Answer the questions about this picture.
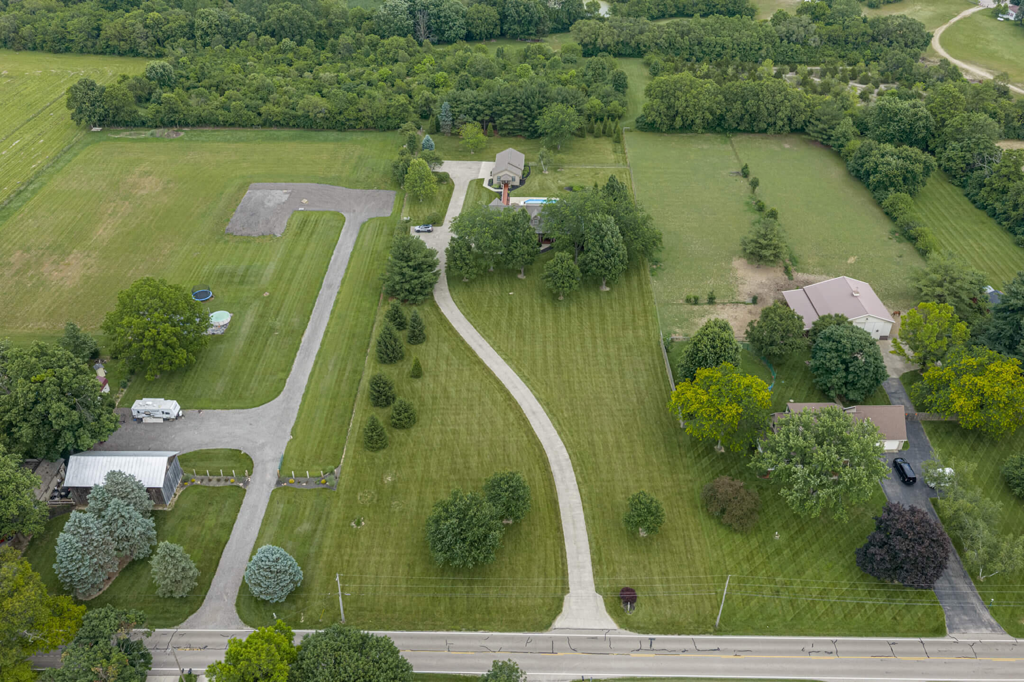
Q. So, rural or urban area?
rural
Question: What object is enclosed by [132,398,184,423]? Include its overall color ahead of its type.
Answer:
white camper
